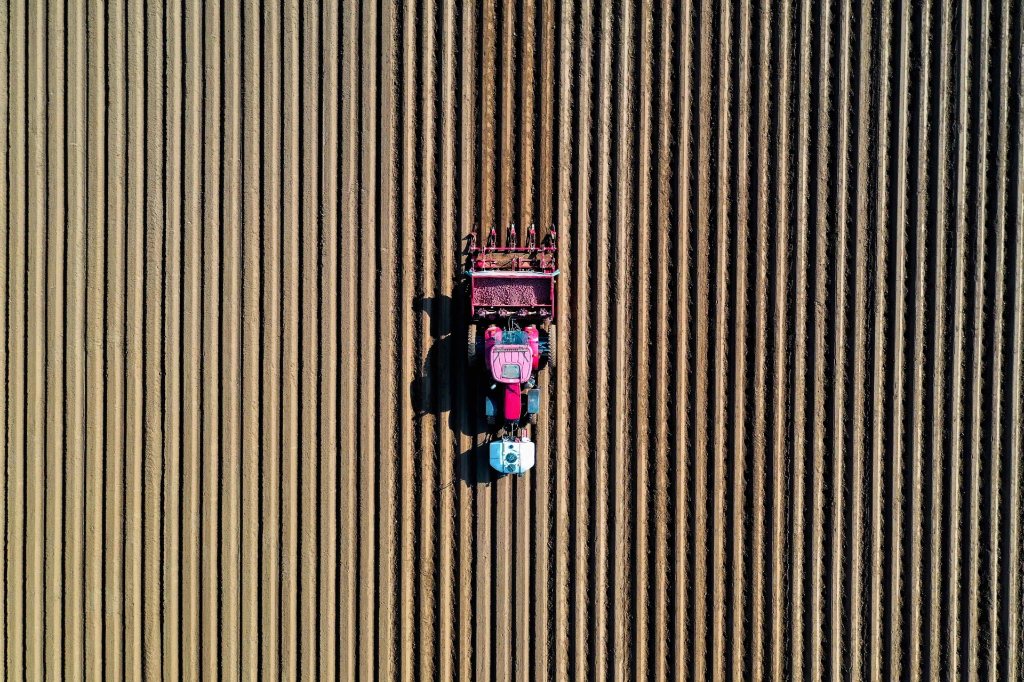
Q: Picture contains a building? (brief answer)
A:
No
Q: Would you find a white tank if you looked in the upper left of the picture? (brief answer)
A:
No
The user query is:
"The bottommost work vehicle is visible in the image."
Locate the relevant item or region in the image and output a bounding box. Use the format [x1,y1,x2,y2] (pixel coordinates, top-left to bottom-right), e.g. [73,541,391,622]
[468,315,556,437]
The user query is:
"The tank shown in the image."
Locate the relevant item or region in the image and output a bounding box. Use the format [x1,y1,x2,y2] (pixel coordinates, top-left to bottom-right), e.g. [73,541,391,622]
[490,429,535,477]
